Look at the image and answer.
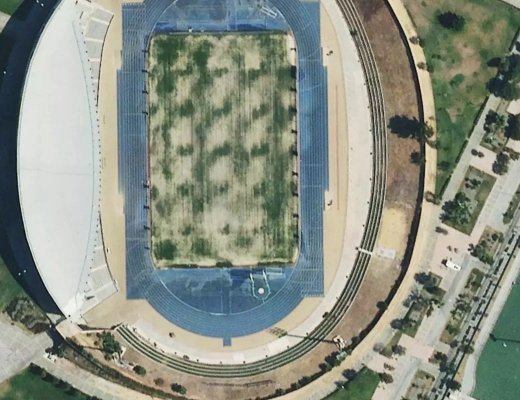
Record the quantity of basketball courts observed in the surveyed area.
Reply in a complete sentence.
No basketball courts are visible.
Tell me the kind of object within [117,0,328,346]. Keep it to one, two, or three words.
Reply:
running track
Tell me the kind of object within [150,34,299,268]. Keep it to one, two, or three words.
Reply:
sports field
